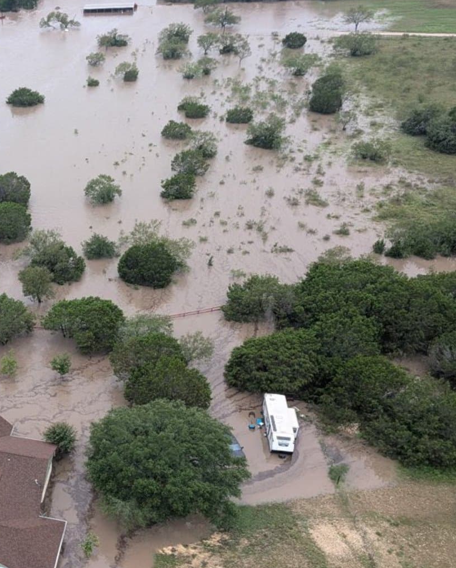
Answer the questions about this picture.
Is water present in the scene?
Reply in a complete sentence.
Yes, there is water in the image.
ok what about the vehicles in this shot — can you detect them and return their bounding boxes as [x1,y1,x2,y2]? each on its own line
[260,394,301,462]
[232,431,248,464]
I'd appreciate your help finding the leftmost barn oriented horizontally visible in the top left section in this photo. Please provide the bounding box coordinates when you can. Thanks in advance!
[79,0,135,13]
